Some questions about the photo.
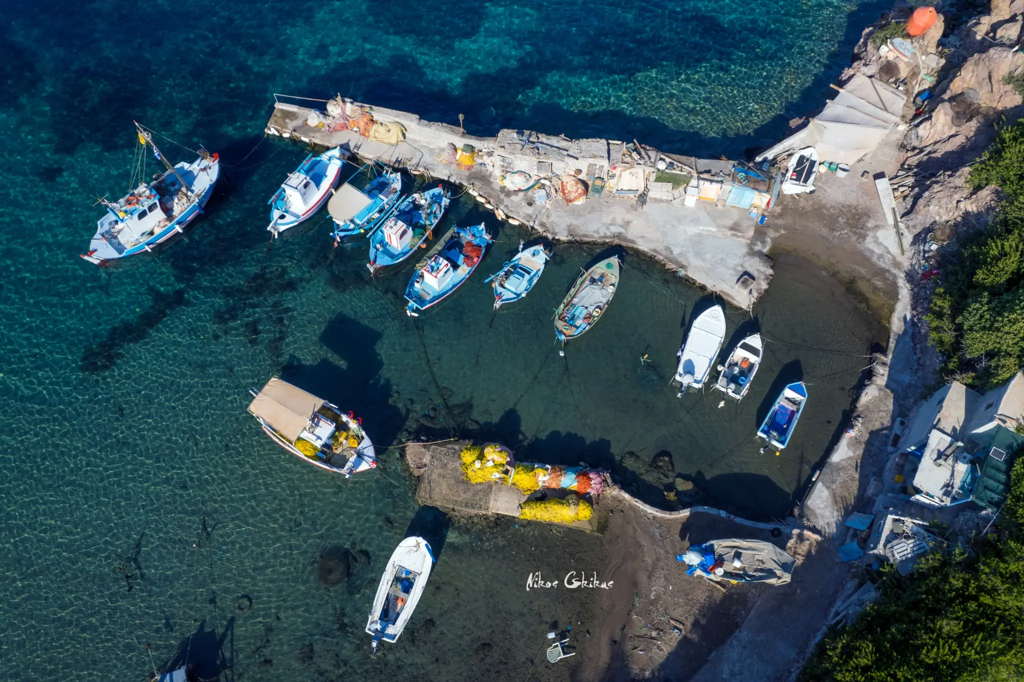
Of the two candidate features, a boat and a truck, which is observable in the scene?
boat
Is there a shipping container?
No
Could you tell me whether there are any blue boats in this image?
Yes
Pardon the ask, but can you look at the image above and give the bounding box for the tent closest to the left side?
[757,72,907,167]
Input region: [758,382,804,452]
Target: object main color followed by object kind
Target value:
blue boat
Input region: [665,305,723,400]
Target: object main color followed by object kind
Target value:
white boat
